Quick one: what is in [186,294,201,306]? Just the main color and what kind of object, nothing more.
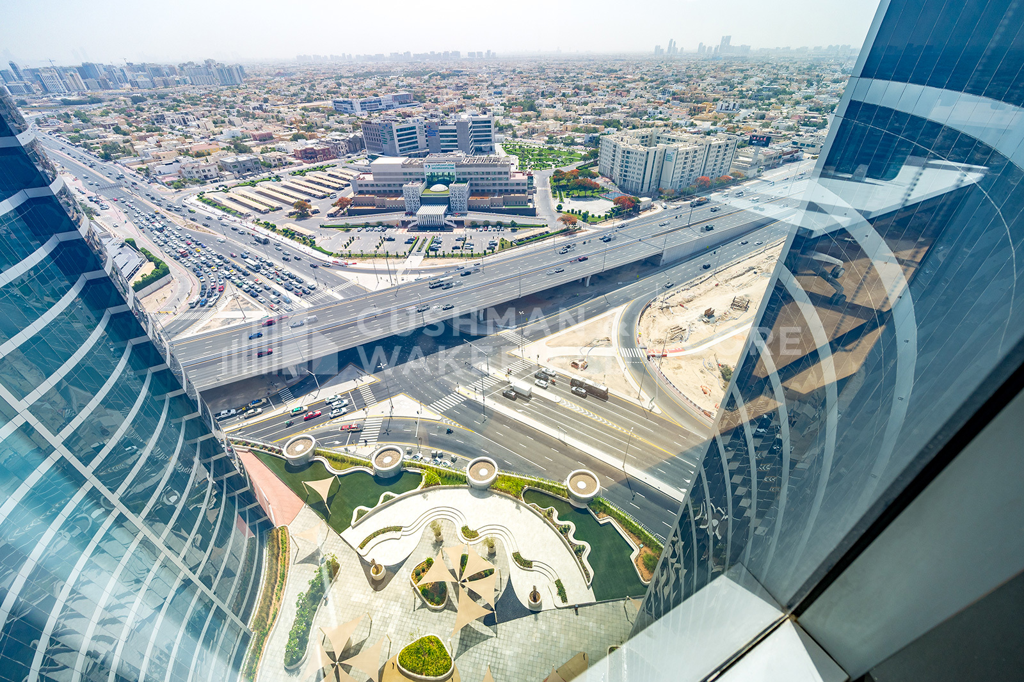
white vehicle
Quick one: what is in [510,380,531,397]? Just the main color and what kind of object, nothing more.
white vehicle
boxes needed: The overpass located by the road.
[170,146,831,392]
